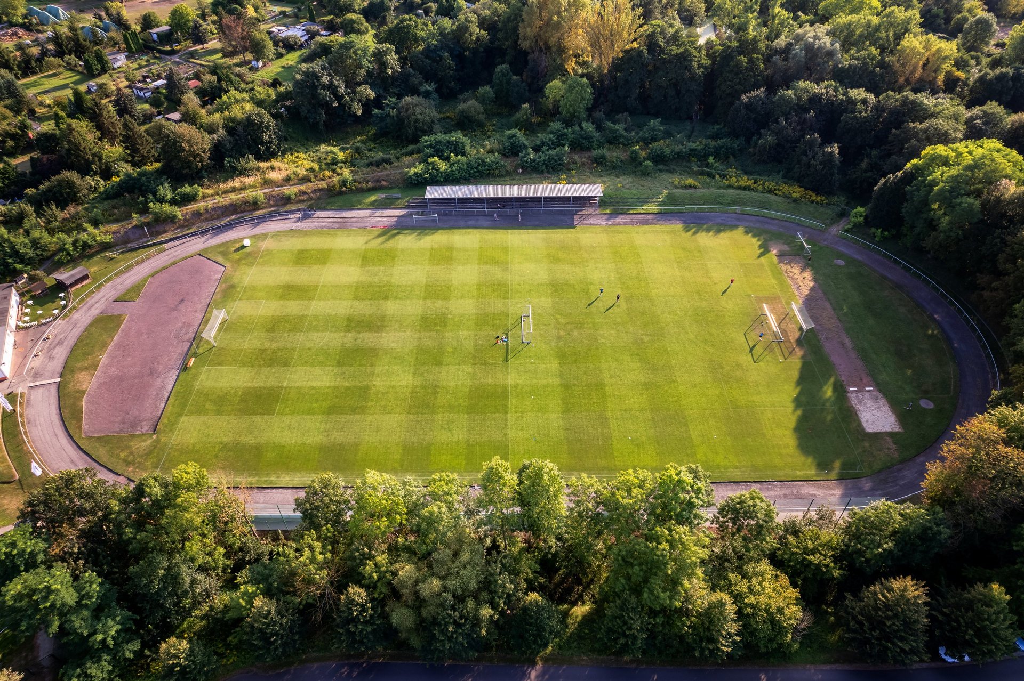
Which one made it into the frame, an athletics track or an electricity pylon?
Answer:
athletics track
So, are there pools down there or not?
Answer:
No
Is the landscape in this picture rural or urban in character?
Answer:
rural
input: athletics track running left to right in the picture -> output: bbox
[29,212,989,515]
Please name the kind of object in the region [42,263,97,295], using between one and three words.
shed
